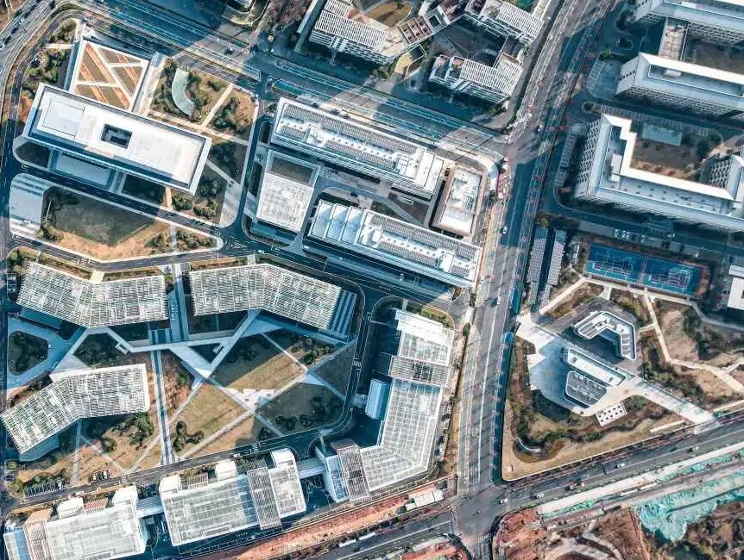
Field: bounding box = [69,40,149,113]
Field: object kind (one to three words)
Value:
building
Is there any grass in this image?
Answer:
Yes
